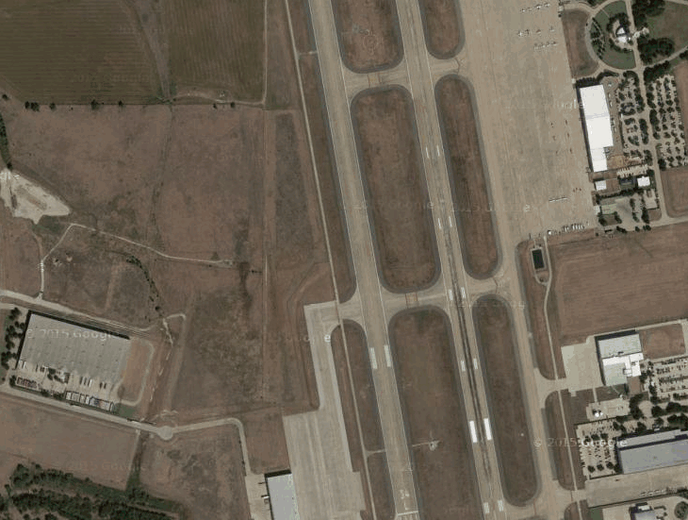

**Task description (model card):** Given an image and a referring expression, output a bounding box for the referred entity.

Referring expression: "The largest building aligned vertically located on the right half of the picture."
[581,85,614,172]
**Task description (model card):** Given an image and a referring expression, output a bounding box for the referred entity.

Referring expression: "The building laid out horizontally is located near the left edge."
[19,314,130,382]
